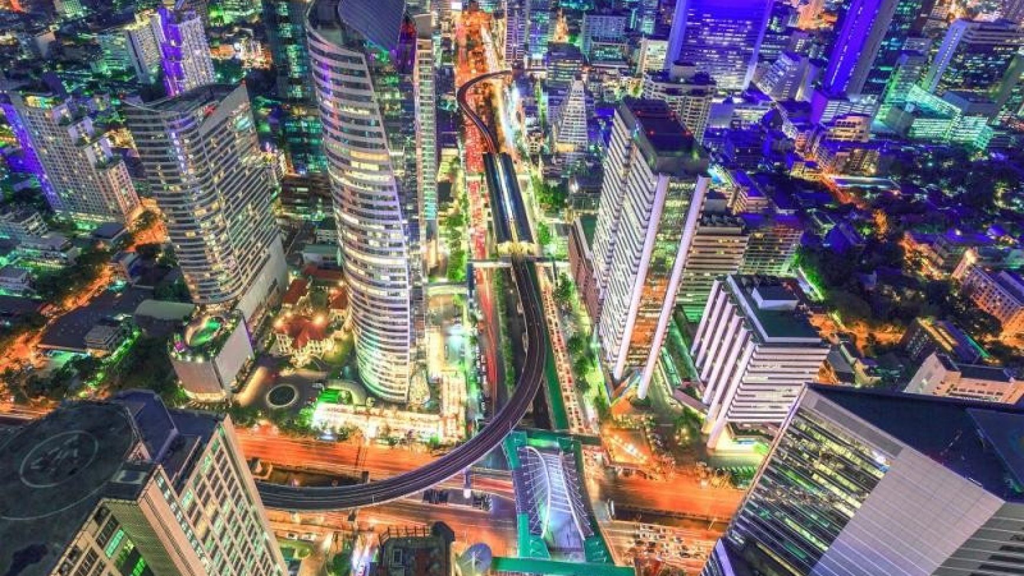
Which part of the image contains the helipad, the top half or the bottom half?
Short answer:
bottom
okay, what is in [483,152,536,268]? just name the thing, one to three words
train station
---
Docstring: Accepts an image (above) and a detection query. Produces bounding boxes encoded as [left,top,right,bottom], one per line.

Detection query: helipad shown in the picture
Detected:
[0,388,153,576]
